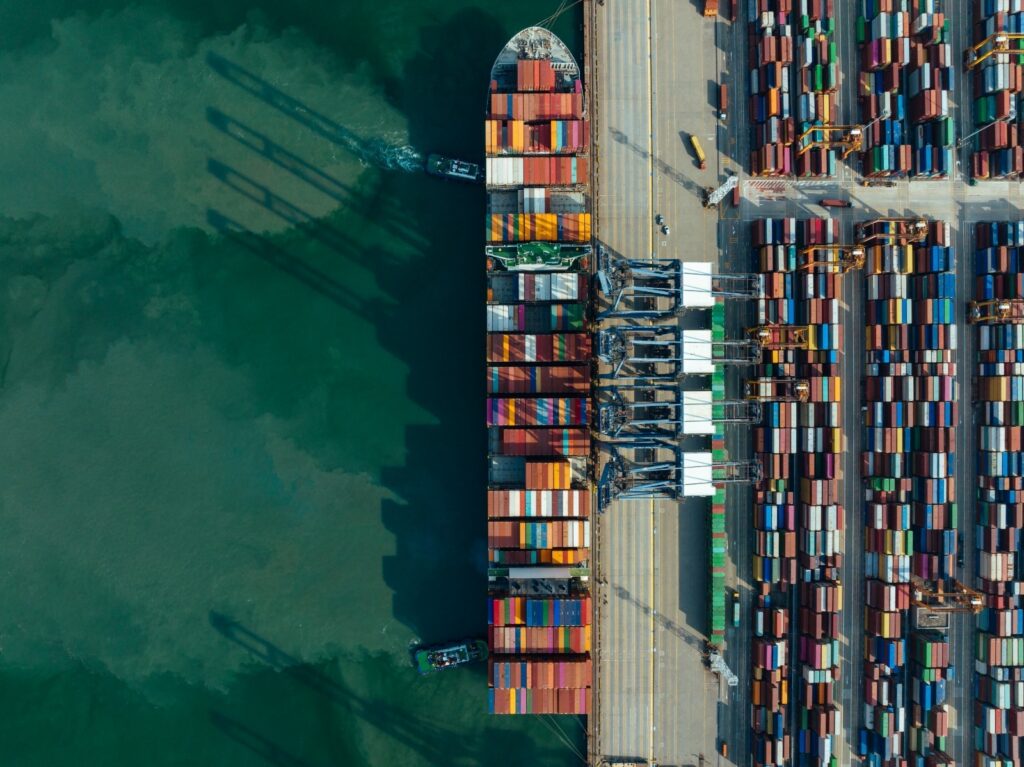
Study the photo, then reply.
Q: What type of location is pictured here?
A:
port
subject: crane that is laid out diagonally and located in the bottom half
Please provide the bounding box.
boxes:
[699,637,738,686]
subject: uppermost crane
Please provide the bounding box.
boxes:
[957,33,1024,79]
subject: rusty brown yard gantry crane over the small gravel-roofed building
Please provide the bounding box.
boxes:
[913,579,990,611]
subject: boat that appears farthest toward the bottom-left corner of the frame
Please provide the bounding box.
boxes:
[414,639,488,675]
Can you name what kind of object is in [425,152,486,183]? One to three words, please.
boat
